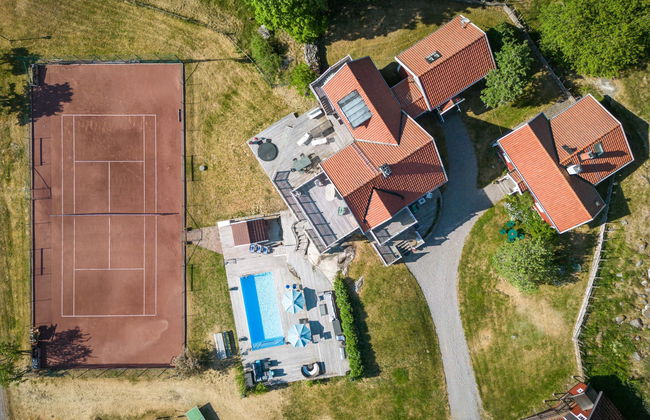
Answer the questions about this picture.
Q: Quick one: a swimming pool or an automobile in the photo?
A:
swimming pool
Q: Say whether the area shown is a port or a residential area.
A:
residential area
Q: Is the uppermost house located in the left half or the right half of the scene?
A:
right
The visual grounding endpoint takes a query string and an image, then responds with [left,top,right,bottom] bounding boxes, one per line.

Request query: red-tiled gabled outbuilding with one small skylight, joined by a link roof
[392,14,496,124]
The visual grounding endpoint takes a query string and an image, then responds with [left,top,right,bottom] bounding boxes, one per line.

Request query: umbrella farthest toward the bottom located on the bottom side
[288,322,311,346]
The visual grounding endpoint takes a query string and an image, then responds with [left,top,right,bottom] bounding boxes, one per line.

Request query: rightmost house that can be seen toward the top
[482,93,634,235]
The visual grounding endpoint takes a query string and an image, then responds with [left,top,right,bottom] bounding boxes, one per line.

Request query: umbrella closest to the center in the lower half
[281,288,306,313]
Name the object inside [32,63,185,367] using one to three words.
tennis court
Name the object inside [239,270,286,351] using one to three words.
swimming pool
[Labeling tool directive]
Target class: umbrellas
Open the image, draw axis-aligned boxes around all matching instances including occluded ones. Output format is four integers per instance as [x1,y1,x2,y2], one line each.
[288,322,311,346]
[281,288,306,313]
